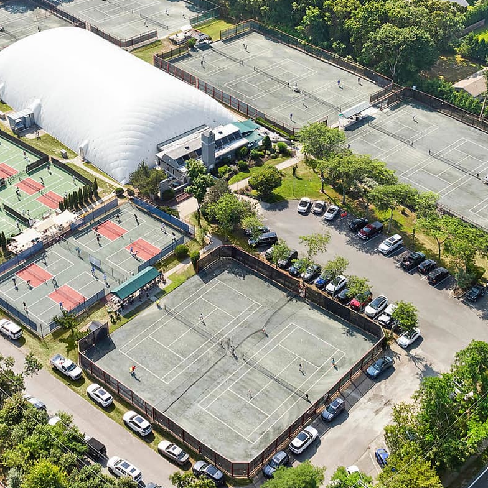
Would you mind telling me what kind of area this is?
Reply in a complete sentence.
The picture captures a sports ground.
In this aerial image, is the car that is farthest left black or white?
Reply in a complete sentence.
In this view, the car that is farthest left is white.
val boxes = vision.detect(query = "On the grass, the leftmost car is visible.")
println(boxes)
[0,319,23,340]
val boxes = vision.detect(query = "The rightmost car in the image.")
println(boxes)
[465,281,488,301]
